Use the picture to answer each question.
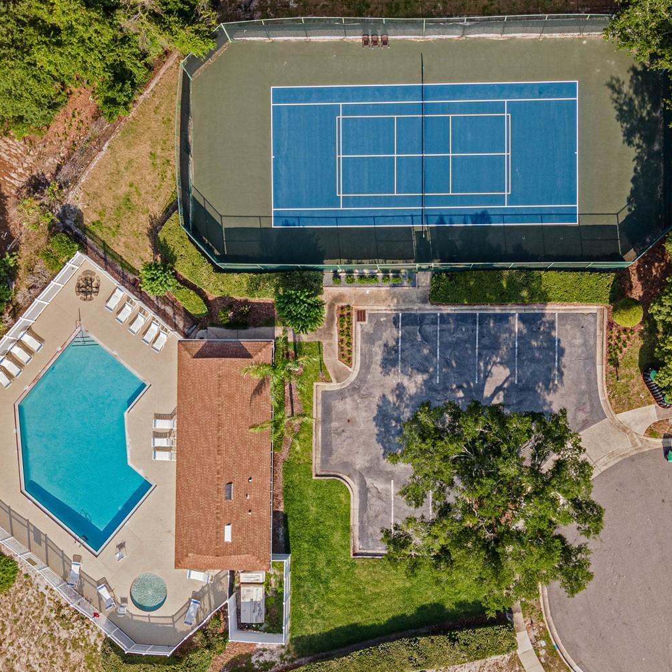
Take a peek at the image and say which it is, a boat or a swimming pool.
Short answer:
swimming pool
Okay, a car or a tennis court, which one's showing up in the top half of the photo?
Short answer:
tennis court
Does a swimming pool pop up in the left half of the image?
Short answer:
Yes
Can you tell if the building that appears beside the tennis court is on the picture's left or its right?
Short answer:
left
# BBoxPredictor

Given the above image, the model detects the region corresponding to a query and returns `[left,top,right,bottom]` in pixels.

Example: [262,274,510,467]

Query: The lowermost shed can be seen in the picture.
[241,581,267,622]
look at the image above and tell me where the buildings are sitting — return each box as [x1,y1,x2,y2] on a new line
[177,338,275,571]
[241,581,267,622]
